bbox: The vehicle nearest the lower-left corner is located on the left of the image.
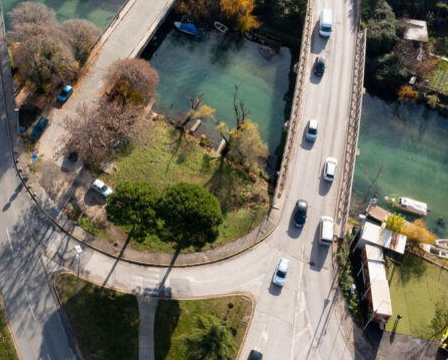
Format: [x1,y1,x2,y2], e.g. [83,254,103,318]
[90,176,114,198]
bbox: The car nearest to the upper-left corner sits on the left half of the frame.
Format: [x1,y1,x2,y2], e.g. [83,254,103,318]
[57,82,73,100]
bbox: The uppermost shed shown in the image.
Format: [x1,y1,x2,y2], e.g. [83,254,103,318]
[395,16,428,52]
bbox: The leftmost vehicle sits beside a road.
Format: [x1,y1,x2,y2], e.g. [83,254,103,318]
[29,116,48,137]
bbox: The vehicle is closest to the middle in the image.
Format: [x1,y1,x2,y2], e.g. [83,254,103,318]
[293,199,308,225]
